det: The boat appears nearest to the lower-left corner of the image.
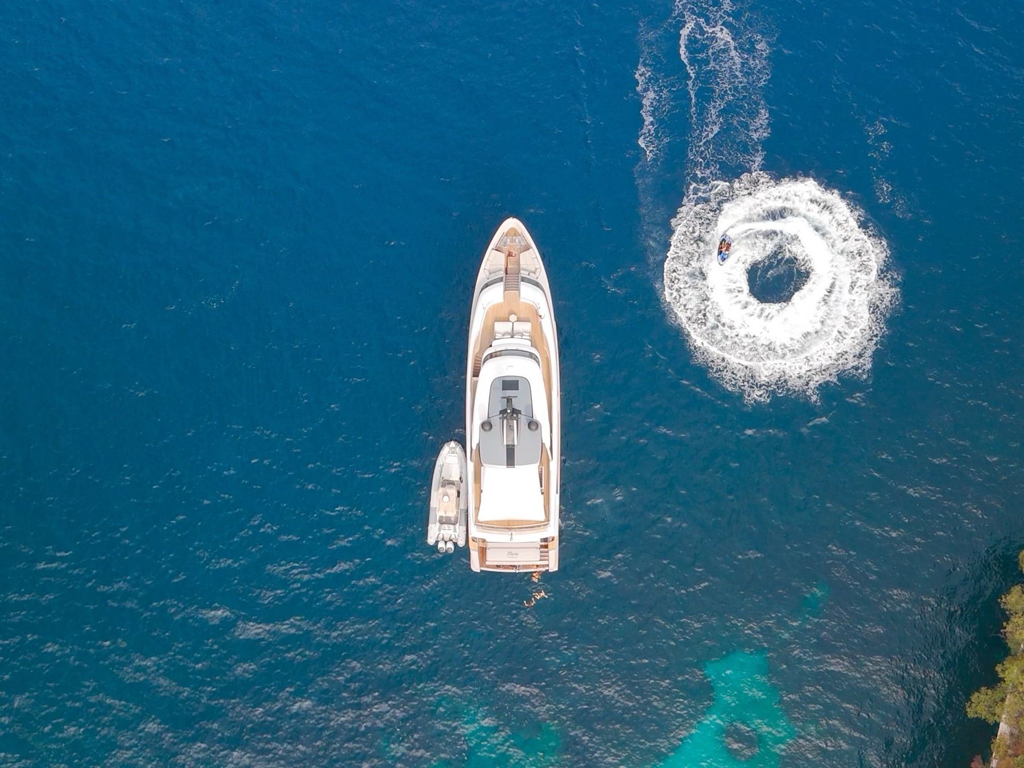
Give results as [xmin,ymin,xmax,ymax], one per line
[428,441,468,552]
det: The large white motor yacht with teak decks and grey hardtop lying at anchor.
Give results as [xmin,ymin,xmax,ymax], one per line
[466,215,561,574]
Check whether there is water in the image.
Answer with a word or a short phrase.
Yes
